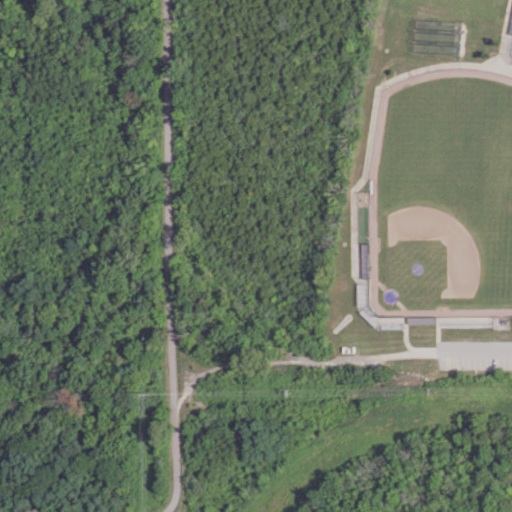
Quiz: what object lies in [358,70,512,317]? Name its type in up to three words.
baseball field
